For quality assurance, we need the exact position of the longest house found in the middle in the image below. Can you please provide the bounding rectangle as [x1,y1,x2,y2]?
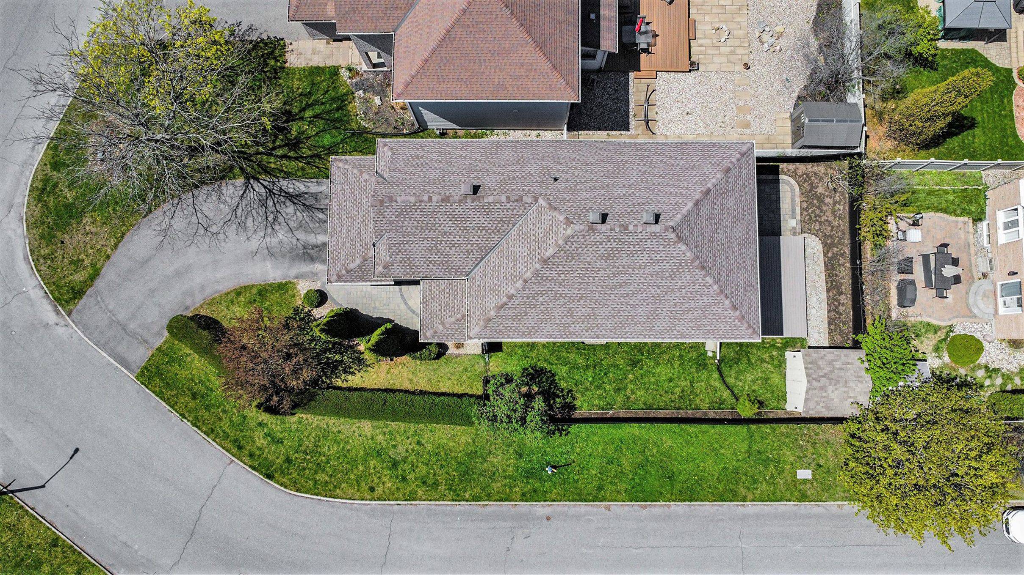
[325,138,763,360]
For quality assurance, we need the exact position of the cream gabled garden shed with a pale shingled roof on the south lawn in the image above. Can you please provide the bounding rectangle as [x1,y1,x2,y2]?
[786,349,875,417]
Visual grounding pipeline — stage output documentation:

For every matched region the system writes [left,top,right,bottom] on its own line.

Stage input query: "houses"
[987,177,1024,338]
[286,0,619,129]
[325,138,763,360]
